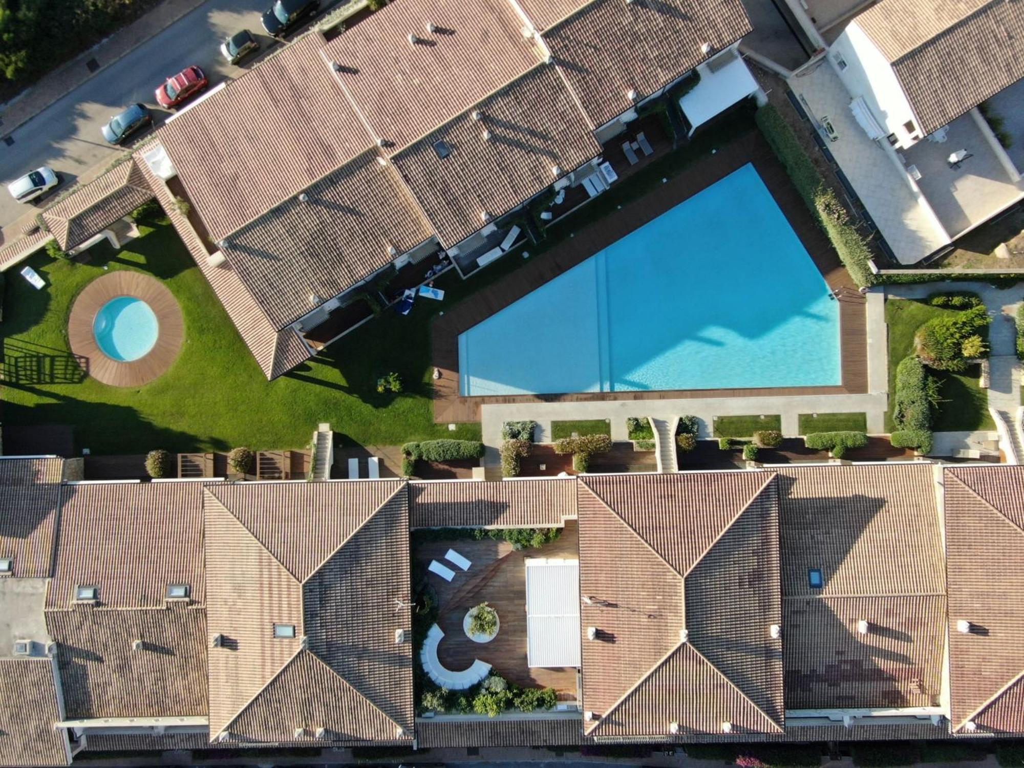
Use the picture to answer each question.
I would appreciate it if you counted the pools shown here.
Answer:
2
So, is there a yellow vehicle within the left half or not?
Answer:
No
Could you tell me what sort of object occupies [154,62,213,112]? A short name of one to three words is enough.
car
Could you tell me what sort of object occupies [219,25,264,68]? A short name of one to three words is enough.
car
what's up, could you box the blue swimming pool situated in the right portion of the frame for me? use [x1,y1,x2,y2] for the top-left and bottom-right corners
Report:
[458,163,843,397]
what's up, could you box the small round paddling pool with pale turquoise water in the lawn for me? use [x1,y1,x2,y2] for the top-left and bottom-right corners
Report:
[91,294,161,363]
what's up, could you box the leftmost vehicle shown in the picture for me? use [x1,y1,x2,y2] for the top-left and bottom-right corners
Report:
[2,165,62,207]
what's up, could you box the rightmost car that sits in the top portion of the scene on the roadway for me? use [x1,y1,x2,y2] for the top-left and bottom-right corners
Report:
[262,0,327,41]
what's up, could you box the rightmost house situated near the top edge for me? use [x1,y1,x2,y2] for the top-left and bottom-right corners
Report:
[827,0,1024,154]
